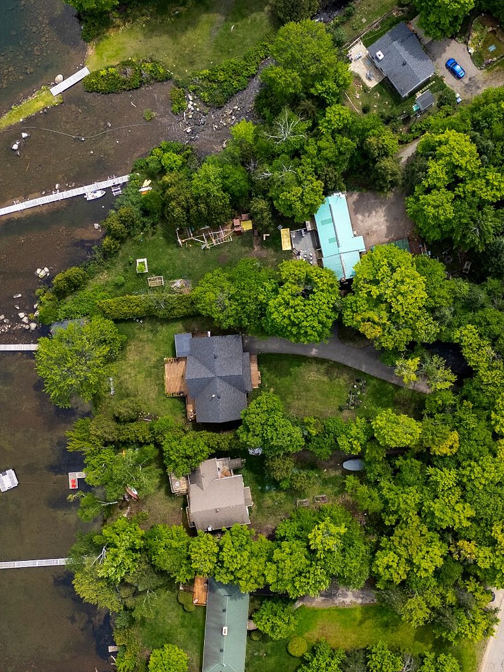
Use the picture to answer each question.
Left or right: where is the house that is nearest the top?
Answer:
right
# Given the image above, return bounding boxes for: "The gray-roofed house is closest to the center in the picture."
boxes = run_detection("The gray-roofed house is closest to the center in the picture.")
[164,330,260,422]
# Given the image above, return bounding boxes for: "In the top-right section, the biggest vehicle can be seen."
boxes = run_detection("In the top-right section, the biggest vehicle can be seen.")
[446,57,465,80]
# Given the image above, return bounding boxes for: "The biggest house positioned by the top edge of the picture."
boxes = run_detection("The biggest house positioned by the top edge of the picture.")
[347,22,436,97]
